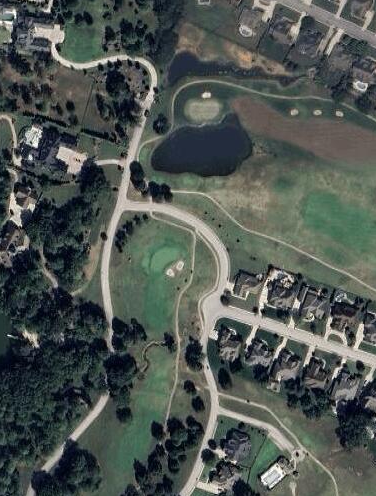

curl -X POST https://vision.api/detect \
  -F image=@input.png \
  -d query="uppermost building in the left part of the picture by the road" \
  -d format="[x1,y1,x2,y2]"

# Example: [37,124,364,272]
[14,17,53,50]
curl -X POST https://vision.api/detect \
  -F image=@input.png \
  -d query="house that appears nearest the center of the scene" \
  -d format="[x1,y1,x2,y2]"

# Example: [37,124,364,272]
[234,266,260,295]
